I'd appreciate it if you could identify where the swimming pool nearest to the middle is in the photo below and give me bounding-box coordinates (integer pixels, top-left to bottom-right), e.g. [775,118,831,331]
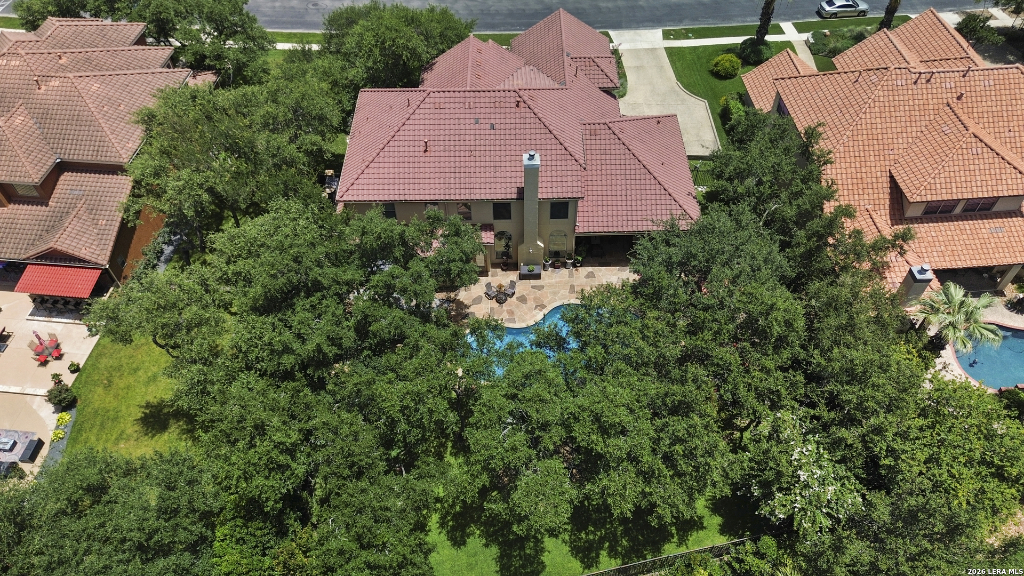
[460,298,655,386]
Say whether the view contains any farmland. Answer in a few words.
No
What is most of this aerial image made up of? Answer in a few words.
trees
